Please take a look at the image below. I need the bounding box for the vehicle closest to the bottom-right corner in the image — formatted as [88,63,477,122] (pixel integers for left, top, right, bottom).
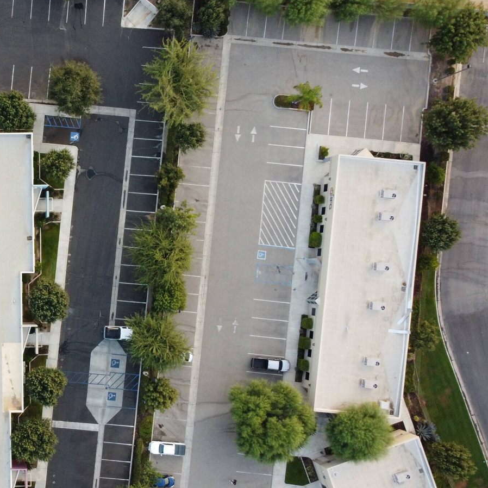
[248,356,290,373]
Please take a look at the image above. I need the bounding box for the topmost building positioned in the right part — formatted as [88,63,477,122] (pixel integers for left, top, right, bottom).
[302,149,425,418]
